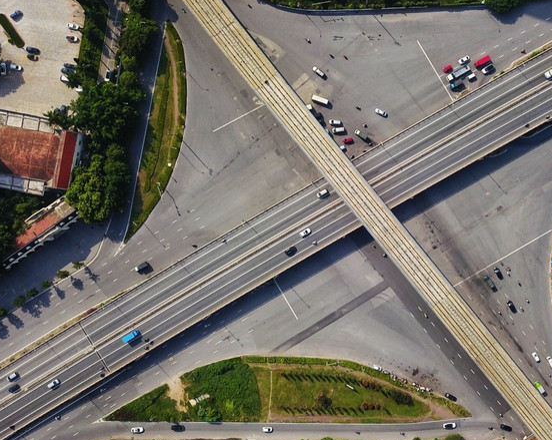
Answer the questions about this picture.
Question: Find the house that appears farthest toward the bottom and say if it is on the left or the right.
left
